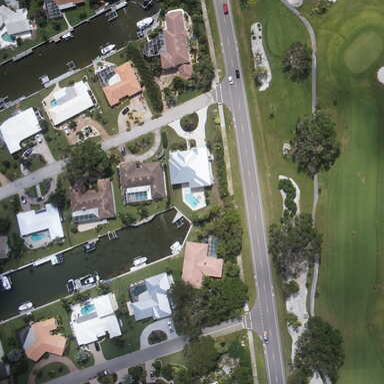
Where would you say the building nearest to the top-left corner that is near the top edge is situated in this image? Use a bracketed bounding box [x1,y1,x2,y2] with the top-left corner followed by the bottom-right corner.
[0,4,35,39]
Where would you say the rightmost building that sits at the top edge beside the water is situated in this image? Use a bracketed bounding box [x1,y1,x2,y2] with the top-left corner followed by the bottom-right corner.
[144,9,192,77]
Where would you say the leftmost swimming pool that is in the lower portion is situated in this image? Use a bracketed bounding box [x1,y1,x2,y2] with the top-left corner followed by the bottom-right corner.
[23,229,51,250]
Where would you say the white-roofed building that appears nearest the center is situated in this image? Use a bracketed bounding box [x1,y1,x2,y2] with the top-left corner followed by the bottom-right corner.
[170,147,214,189]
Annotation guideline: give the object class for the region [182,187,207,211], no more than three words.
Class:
swimming pool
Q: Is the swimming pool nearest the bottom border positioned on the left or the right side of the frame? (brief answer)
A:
left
